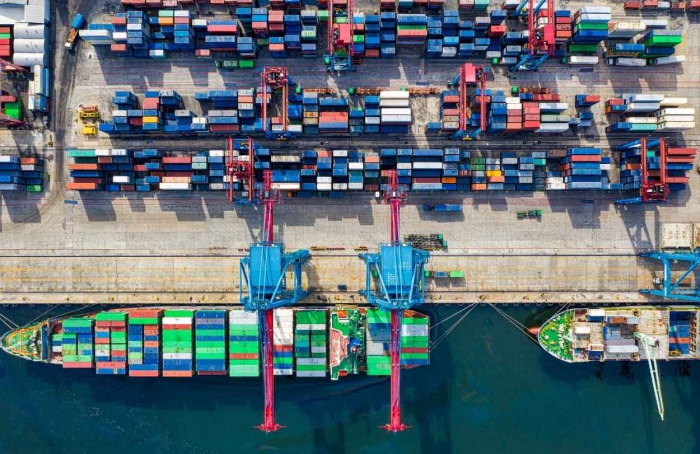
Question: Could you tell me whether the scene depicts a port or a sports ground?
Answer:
port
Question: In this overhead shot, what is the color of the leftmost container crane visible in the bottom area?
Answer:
blue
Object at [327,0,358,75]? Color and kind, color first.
red crane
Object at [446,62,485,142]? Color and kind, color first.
red crane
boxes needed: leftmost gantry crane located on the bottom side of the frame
[239,171,311,436]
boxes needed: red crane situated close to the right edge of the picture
[611,137,669,206]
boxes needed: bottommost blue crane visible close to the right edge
[640,253,700,307]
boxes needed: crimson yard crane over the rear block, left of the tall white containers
[508,0,555,72]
